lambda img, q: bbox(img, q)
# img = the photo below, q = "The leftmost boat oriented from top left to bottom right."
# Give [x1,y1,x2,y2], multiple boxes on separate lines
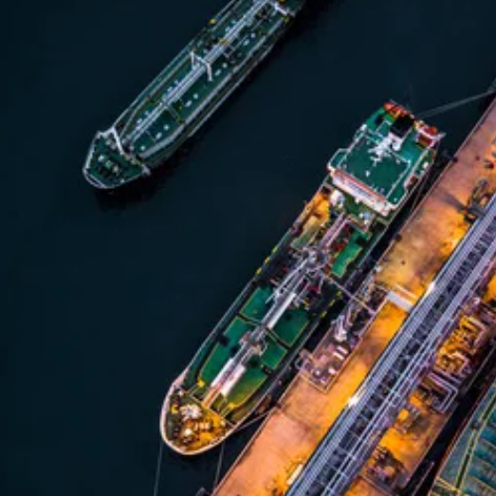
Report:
[388,98,404,112]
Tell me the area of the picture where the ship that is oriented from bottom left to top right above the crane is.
top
